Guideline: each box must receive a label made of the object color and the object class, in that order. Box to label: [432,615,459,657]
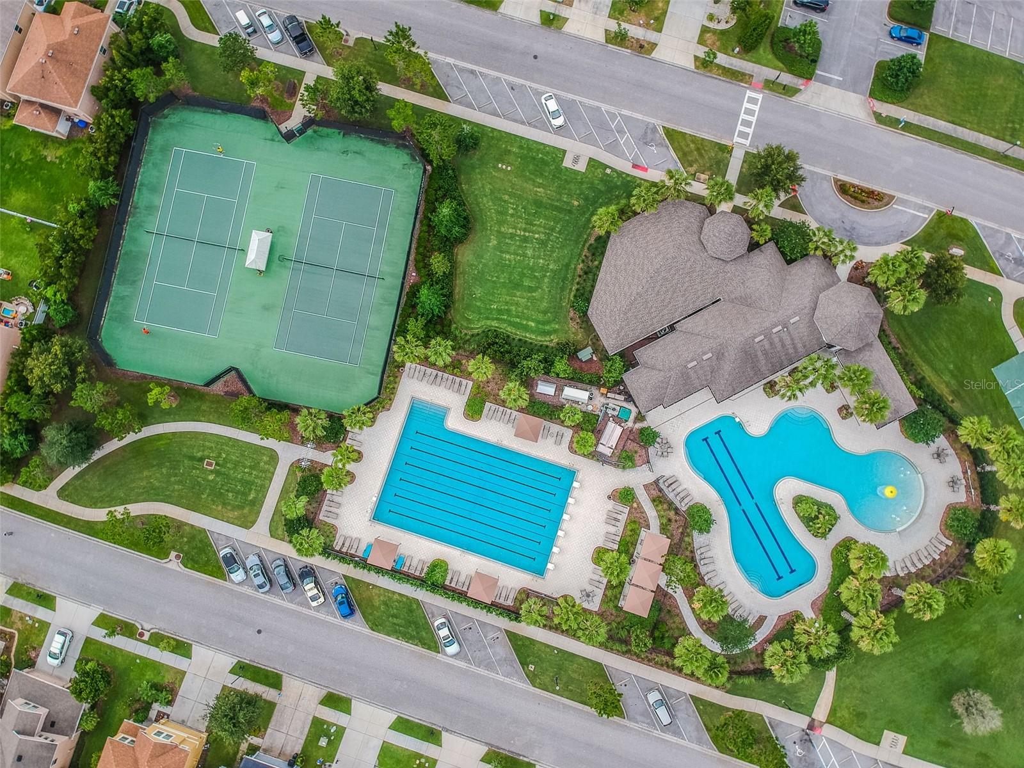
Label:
white car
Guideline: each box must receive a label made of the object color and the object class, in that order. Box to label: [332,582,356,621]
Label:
blue car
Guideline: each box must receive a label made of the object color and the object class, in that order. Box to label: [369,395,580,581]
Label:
blue swimming pool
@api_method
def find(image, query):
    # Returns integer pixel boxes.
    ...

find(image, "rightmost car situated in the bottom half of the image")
[645,687,674,729]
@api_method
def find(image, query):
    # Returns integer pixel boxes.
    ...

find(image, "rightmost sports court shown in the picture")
[992,354,1024,429]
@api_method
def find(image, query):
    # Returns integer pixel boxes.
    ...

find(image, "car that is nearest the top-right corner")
[887,24,928,48]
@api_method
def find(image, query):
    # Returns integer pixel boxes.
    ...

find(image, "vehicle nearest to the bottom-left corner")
[46,626,74,667]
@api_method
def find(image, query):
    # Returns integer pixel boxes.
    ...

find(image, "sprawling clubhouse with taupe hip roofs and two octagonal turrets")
[588,201,918,431]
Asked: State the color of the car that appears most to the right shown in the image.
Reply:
blue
